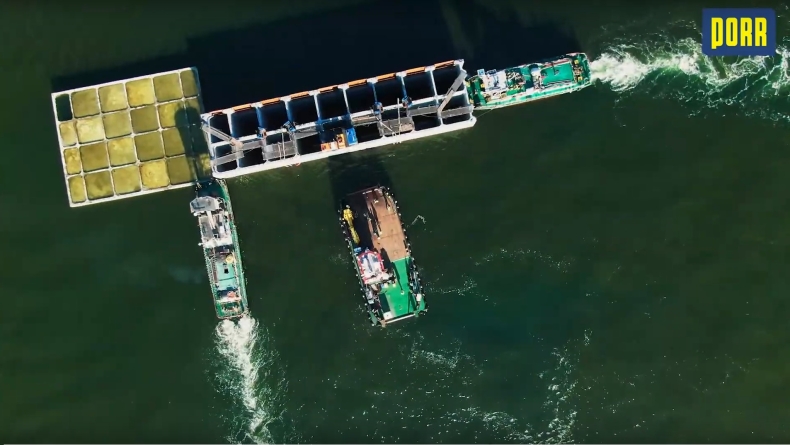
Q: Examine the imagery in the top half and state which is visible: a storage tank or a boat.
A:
boat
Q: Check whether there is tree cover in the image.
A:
No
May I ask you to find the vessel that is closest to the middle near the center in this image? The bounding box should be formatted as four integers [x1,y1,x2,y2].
[339,187,425,325]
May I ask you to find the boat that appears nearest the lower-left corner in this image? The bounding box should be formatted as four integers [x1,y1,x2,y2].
[189,181,247,318]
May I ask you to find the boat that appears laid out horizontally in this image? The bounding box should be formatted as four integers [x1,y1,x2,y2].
[468,56,589,108]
